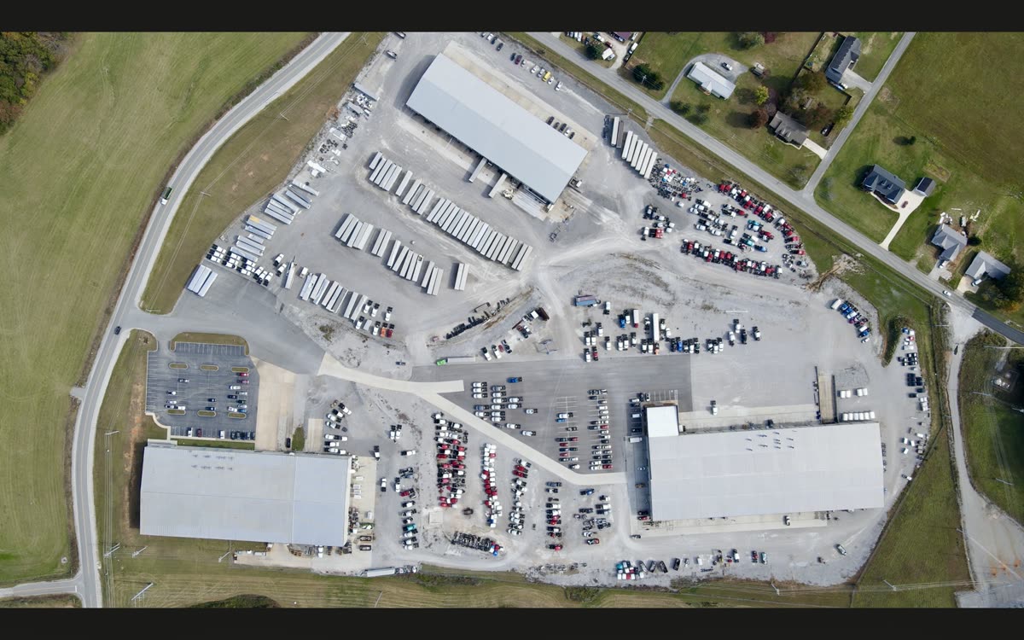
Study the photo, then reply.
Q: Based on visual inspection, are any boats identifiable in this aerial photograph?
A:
No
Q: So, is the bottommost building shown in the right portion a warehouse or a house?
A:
warehouse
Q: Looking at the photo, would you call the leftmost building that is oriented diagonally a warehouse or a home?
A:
warehouse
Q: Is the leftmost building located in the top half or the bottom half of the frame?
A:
bottom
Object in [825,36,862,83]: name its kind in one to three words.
house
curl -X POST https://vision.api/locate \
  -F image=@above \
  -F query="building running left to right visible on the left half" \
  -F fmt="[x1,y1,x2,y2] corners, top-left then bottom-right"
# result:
[140,440,353,546]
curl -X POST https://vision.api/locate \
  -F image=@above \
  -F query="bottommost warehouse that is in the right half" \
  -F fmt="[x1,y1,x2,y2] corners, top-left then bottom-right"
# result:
[644,404,884,521]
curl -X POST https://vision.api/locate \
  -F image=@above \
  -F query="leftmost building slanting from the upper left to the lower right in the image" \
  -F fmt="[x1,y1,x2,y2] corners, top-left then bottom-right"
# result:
[406,53,588,204]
